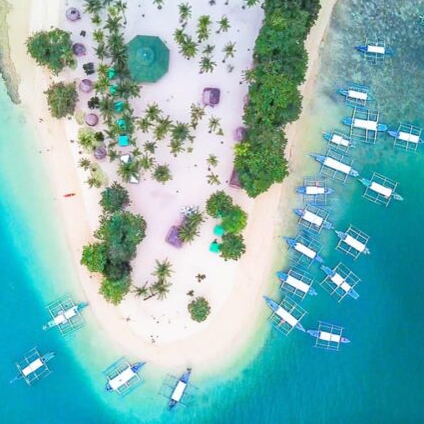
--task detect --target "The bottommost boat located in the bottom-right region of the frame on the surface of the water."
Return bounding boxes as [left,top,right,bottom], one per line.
[308,320,351,351]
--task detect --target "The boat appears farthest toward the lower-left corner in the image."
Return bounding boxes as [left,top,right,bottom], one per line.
[9,346,55,385]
